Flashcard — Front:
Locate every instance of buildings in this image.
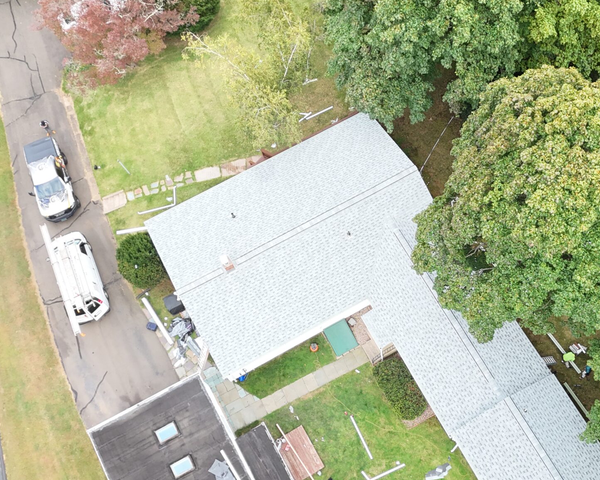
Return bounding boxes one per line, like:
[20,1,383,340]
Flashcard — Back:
[85,373,252,480]
[144,110,600,480]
